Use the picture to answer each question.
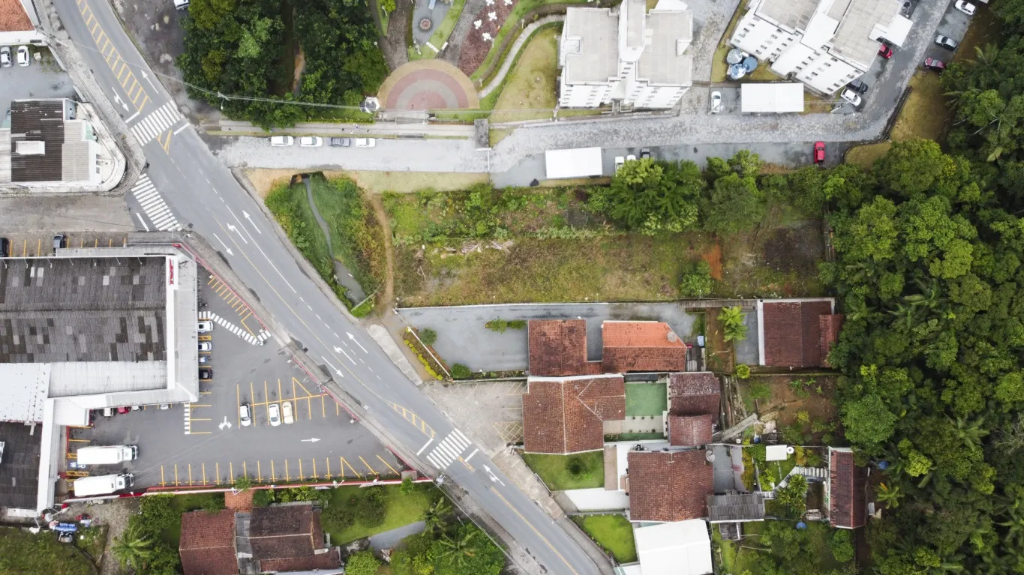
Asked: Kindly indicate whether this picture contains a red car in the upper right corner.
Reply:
Yes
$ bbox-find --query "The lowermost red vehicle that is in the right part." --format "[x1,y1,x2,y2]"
[813,142,825,163]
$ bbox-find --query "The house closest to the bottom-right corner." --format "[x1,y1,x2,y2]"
[820,443,866,530]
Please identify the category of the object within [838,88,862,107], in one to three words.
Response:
car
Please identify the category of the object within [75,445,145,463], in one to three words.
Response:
vehicle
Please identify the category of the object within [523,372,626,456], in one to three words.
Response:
house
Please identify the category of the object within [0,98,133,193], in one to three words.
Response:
building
